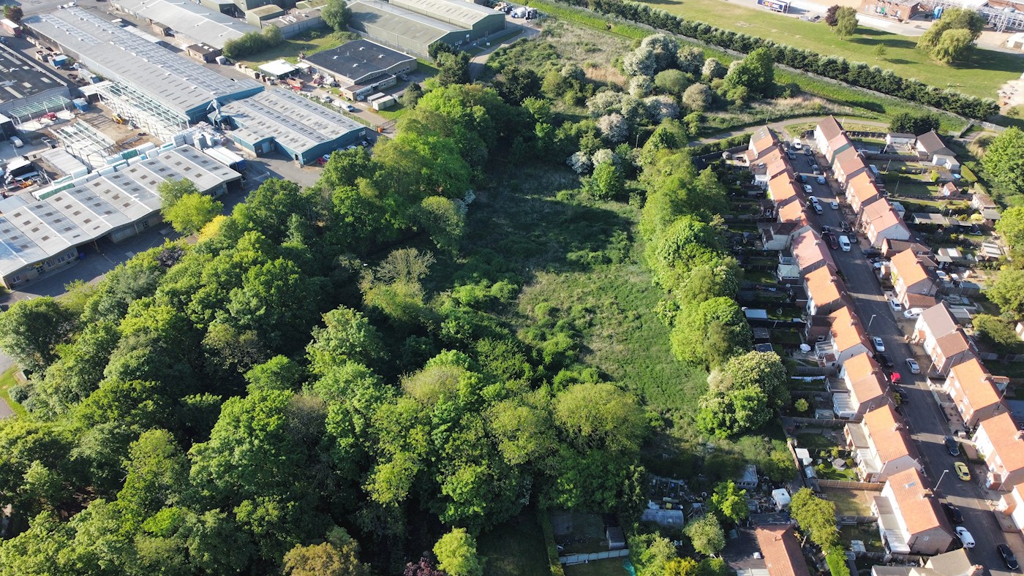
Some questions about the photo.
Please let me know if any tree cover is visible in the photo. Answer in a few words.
Yes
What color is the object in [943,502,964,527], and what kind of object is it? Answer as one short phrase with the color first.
black car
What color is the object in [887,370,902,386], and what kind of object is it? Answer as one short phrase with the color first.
red car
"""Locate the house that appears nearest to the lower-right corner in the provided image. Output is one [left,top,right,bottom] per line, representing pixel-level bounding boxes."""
[982,488,1024,560]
